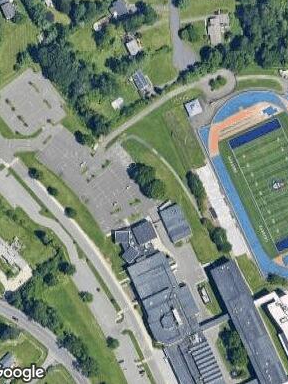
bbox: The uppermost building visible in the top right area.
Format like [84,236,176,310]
[201,14,225,44]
